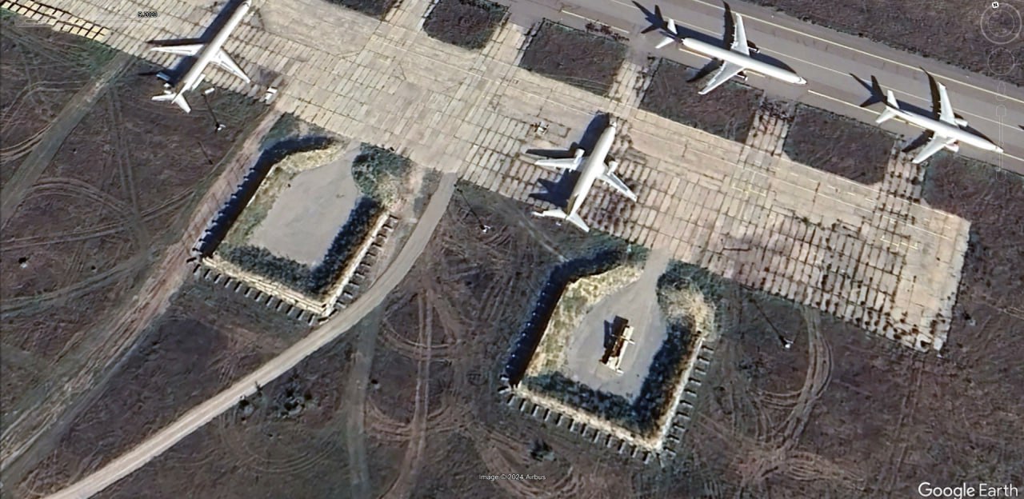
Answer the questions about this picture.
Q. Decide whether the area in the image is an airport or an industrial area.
airport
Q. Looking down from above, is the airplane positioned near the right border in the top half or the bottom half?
top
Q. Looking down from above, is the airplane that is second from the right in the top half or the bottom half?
top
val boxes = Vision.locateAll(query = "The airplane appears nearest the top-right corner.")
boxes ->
[878,81,1005,163]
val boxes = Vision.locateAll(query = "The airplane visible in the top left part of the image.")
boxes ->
[148,0,251,111]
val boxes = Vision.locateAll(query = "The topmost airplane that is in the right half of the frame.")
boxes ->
[656,14,808,93]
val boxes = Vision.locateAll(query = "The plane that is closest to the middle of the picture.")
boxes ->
[533,121,637,232]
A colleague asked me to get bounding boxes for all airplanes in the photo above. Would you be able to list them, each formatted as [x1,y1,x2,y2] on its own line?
[533,121,637,232]
[878,81,1005,163]
[148,0,251,111]
[656,14,808,93]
